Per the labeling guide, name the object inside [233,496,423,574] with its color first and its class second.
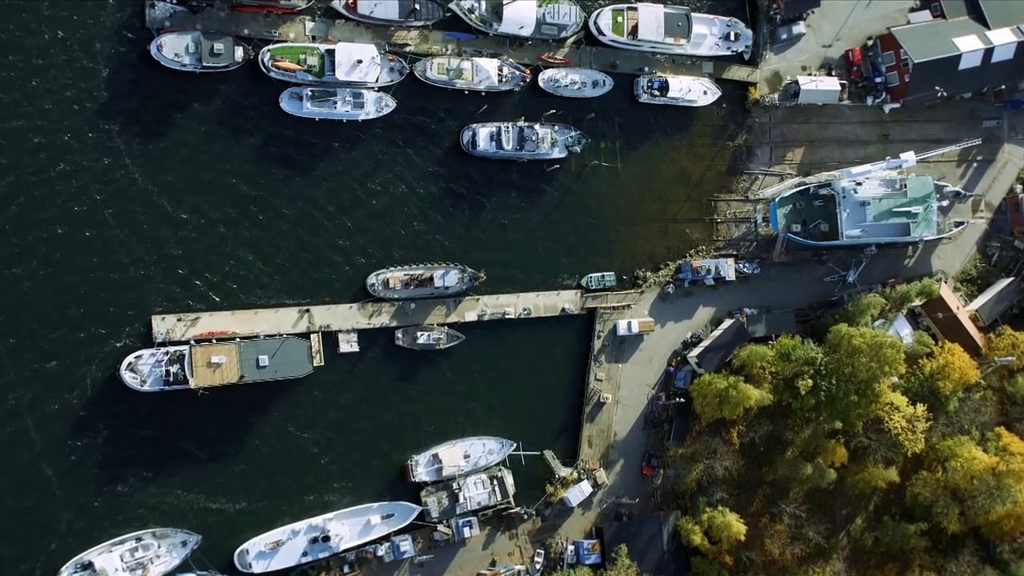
white ship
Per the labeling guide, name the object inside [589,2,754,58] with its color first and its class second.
white boat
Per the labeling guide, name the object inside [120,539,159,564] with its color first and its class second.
white boat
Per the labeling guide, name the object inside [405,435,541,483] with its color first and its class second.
white vessel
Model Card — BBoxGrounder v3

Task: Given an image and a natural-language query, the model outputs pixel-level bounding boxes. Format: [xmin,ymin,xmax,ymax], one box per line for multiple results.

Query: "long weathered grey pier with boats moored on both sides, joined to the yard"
[146,0,724,80]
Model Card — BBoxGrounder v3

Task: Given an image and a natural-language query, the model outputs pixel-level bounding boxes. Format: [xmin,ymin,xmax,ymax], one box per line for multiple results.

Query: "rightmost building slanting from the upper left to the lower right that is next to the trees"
[915,281,981,354]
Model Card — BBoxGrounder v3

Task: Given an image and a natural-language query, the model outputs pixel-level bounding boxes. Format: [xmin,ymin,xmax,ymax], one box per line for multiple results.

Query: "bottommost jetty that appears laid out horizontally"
[152,290,585,342]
